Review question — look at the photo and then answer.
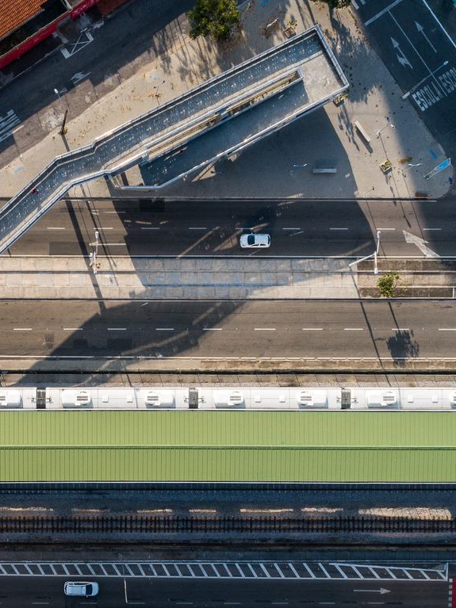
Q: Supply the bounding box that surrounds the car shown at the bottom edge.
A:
[65,580,99,599]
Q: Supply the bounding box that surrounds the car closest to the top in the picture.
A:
[238,231,271,249]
